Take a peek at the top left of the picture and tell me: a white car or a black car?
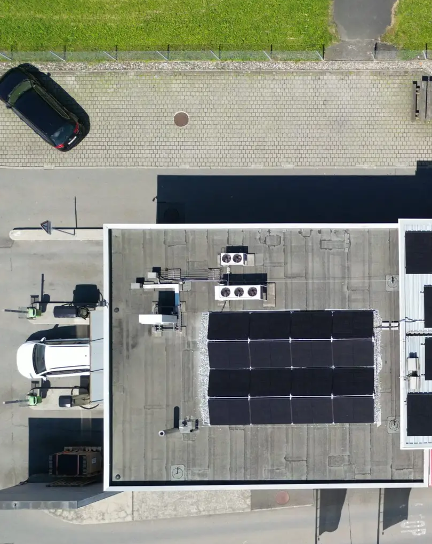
black car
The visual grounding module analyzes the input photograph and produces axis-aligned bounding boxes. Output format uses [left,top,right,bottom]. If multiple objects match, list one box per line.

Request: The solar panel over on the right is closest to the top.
[402,231,432,273]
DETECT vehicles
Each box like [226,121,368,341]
[0,63,89,155]
[16,335,104,386]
